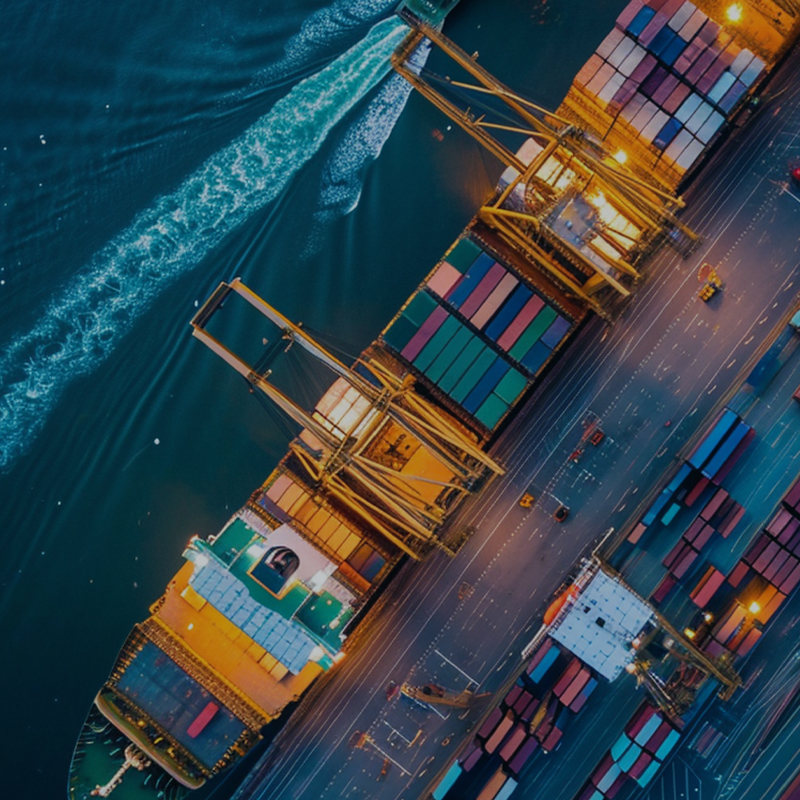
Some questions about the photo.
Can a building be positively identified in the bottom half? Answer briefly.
Yes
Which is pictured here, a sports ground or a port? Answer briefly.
port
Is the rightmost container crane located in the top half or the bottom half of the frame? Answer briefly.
bottom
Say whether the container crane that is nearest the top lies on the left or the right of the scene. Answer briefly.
right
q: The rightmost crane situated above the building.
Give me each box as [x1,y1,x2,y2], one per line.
[388,21,696,344]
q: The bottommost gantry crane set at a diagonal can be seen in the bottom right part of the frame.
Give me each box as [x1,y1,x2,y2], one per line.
[588,543,744,735]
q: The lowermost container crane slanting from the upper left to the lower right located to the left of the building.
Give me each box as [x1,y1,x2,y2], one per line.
[188,276,511,573]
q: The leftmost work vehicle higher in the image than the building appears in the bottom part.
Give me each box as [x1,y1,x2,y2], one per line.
[521,487,534,509]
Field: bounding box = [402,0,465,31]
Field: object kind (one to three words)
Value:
boat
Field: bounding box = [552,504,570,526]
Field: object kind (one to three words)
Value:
car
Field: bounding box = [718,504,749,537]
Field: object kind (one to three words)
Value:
shipping container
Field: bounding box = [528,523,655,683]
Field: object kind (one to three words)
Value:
building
